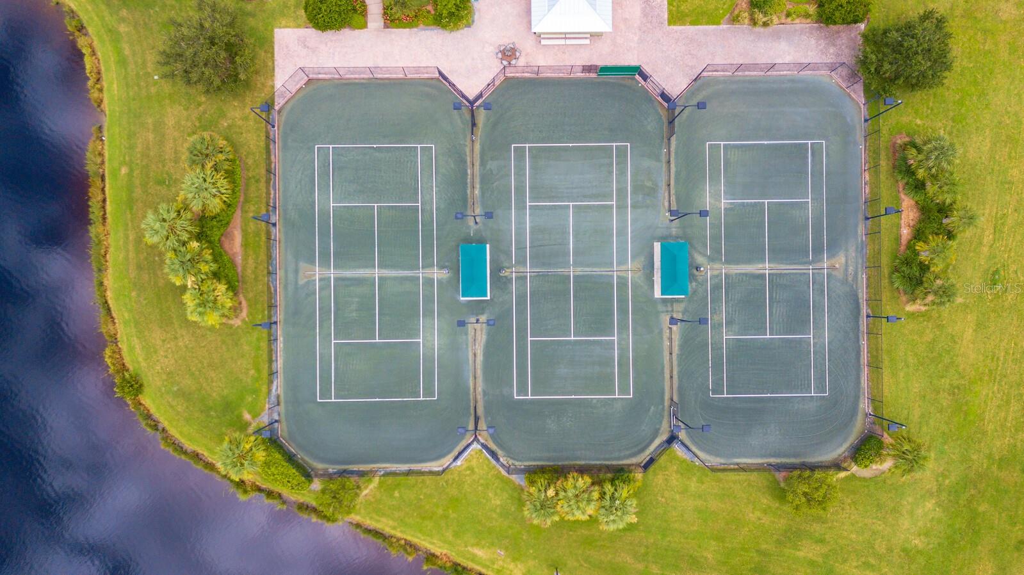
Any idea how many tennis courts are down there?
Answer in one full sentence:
In total, 3 tennis courts can be seen.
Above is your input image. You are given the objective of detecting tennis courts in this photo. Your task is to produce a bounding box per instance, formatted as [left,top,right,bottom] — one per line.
[670,74,868,464]
[474,76,672,466]
[279,79,476,470]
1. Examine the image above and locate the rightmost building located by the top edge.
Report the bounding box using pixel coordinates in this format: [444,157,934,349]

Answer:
[531,0,612,36]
